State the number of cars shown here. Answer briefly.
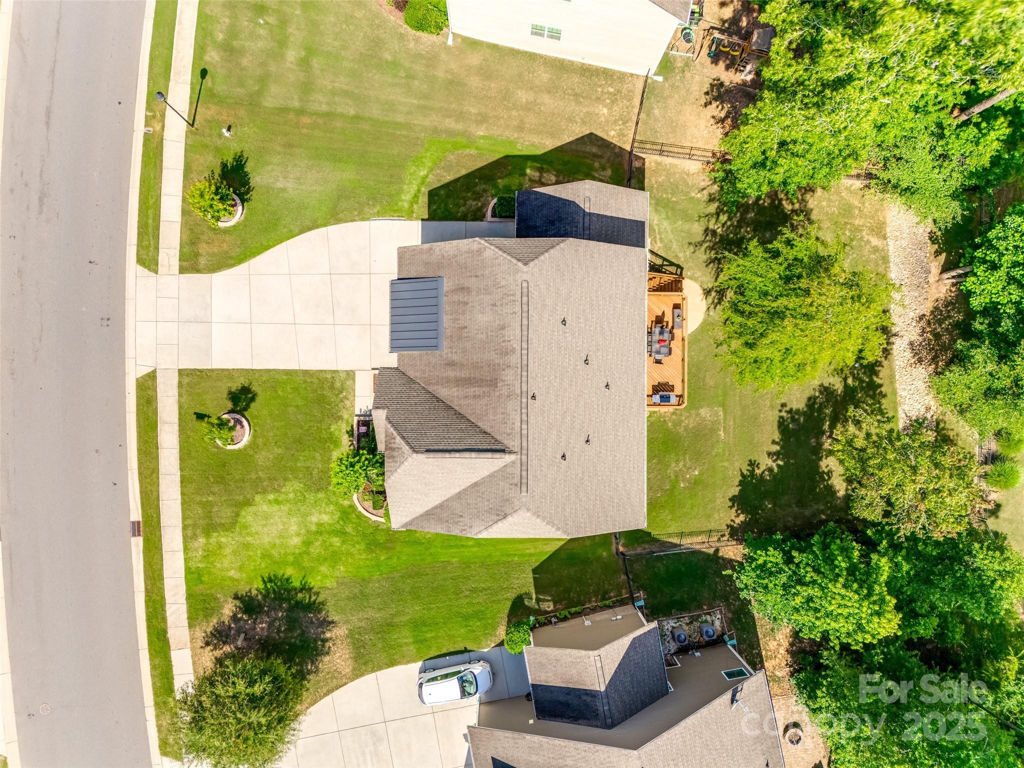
1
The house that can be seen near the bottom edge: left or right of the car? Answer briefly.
to the right of it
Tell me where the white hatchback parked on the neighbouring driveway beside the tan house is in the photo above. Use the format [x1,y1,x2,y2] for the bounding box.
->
[414,658,493,707]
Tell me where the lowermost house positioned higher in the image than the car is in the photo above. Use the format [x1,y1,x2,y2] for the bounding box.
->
[372,179,651,541]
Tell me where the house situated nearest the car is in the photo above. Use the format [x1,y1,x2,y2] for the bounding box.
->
[466,607,788,768]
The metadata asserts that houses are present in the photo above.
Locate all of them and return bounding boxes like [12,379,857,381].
[372,179,651,541]
[442,0,695,77]
[466,607,788,768]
